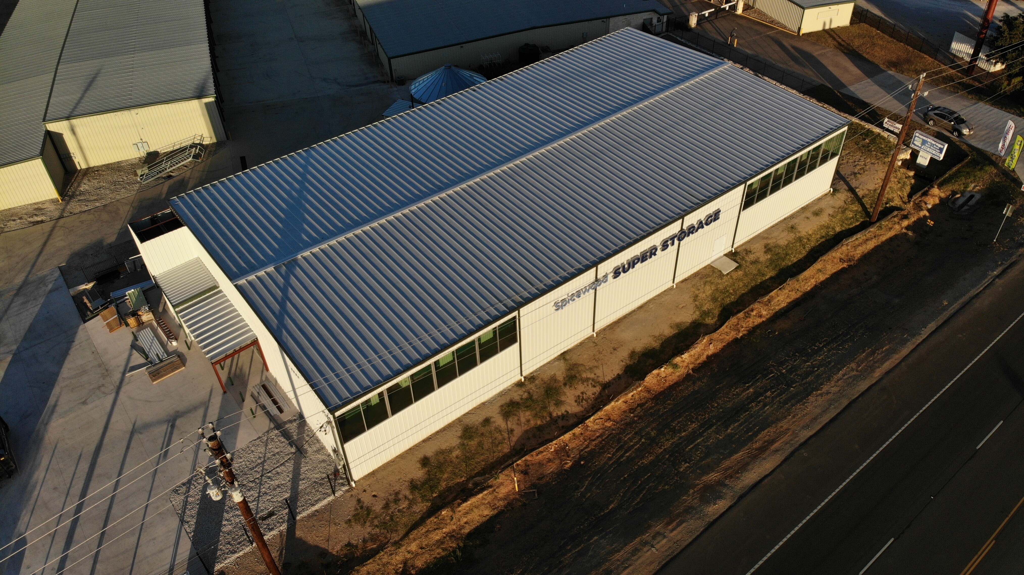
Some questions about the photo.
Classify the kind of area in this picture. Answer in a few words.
industrial area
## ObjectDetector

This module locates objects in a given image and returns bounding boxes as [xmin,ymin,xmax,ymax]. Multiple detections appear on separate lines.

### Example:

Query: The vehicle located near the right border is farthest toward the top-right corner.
[925,106,977,137]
